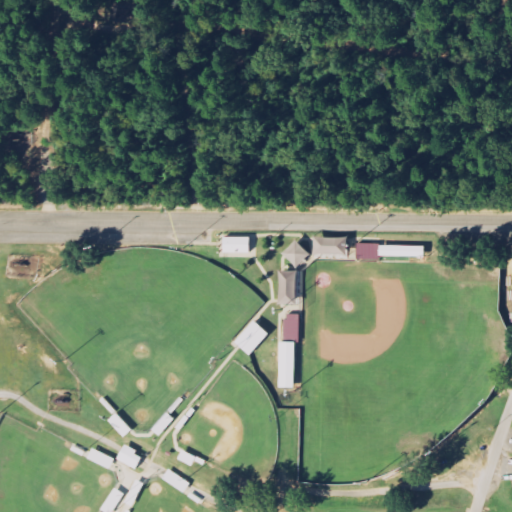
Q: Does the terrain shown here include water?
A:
No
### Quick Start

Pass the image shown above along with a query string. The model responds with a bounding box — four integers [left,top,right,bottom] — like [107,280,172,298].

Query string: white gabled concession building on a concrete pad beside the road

[222,236,250,252]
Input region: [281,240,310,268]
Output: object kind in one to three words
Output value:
building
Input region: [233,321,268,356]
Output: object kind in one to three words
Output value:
building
